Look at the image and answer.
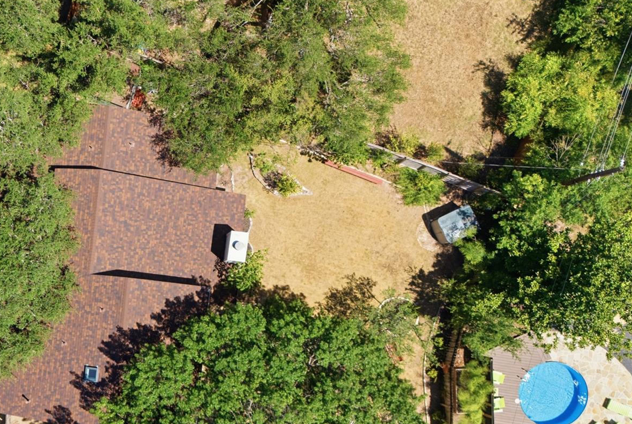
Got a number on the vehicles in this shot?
0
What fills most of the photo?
trees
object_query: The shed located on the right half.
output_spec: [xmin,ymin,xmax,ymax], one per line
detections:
[426,206,480,245]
